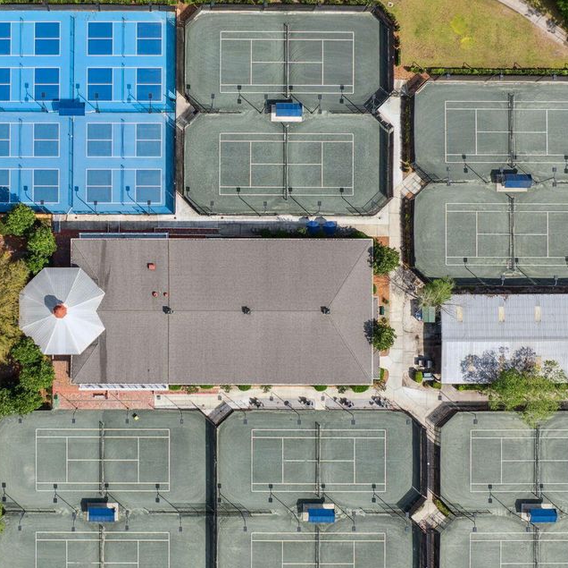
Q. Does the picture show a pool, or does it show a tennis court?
tennis court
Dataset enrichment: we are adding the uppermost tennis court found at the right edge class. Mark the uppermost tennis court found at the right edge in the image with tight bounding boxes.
[410,81,568,182]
